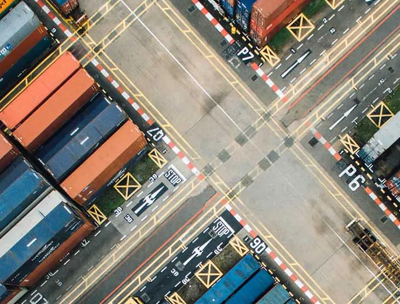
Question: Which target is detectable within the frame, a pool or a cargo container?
cargo container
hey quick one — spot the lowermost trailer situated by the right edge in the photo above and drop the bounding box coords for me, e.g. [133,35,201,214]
[343,216,400,293]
